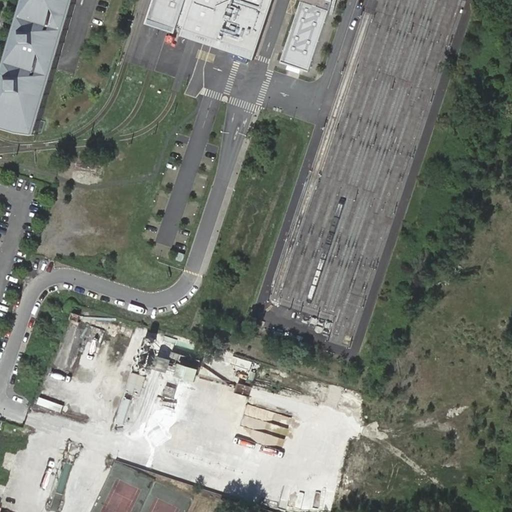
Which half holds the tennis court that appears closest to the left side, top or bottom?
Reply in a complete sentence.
The bottom half of the photo is where the tennis court that appears closest to the left side is.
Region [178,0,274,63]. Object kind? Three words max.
building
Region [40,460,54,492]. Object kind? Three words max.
vehicle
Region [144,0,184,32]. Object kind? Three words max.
shed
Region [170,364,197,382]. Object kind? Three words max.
shed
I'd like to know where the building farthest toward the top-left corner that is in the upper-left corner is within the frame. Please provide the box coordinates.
[0,0,70,135]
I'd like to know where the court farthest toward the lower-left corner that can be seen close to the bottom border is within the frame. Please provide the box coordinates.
[90,461,156,512]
